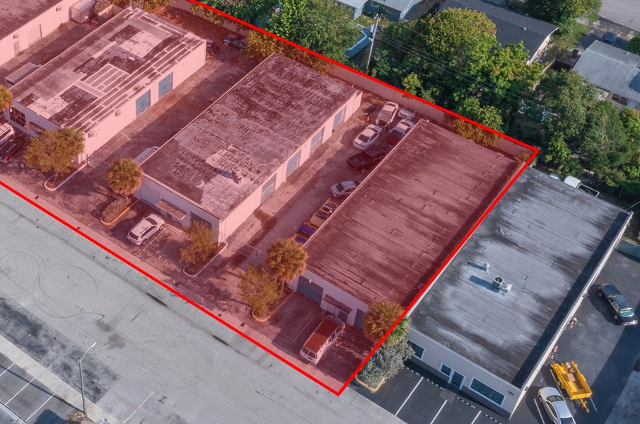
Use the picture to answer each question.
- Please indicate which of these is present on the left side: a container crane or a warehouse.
warehouse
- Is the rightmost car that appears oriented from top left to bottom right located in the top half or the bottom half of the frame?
bottom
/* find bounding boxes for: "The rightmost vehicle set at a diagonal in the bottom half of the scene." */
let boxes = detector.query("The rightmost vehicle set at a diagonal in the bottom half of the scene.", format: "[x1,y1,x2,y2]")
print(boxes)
[598,284,640,326]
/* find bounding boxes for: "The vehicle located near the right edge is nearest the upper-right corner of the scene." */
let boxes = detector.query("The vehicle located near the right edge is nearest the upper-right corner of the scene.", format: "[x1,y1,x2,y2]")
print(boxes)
[598,27,624,48]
